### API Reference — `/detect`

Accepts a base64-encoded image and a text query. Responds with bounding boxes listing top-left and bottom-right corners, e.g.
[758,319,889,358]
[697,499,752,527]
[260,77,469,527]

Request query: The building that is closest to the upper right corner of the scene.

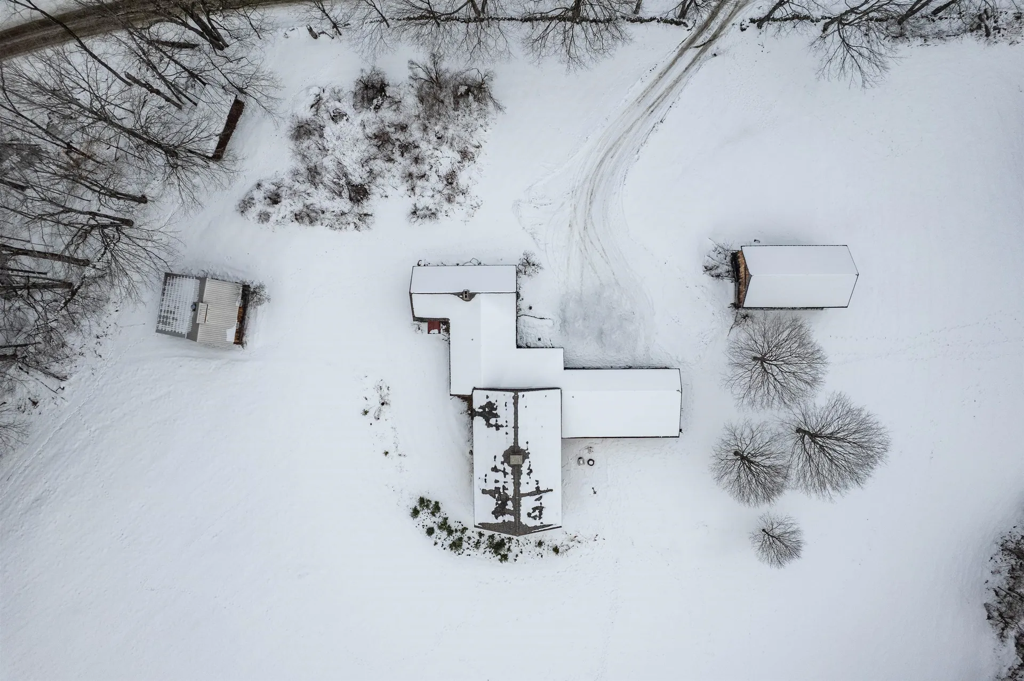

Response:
[735,245,859,309]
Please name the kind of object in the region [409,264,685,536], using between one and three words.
house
